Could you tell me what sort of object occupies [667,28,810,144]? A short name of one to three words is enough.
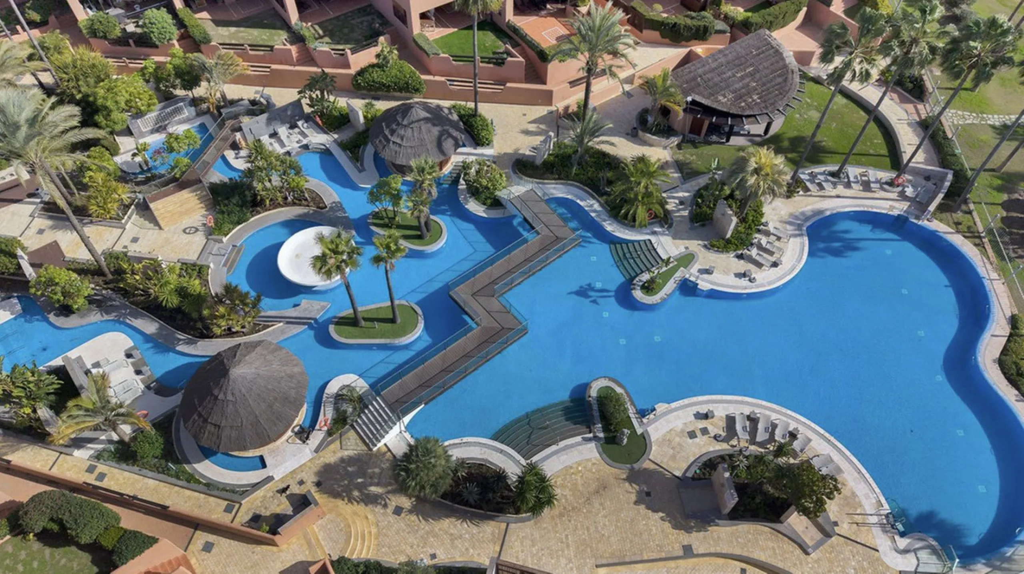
building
